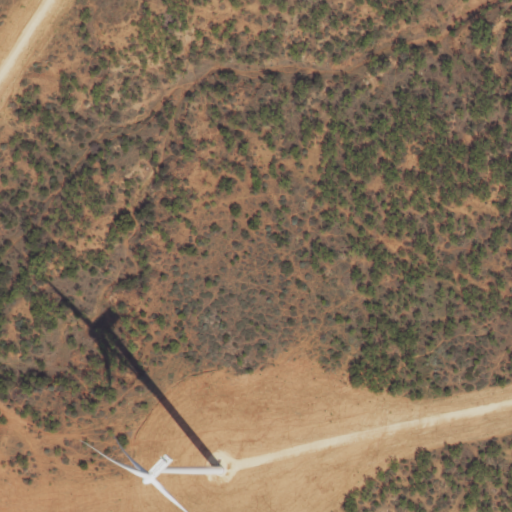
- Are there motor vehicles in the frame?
No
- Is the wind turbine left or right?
left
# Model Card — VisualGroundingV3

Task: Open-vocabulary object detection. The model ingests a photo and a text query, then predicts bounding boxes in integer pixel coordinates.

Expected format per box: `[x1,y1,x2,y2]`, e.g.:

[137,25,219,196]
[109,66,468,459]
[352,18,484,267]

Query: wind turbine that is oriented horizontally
[78,436,225,512]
